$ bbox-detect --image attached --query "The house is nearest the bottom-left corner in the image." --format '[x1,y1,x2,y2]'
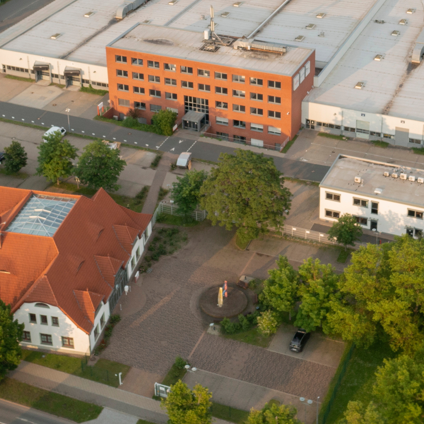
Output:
[0,180,158,356]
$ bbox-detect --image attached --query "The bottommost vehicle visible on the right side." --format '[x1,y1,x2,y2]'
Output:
[290,327,309,349]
